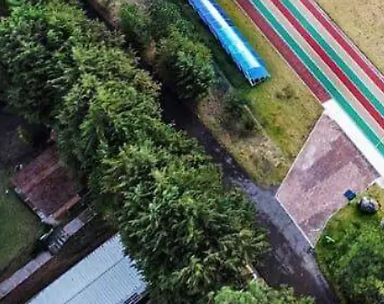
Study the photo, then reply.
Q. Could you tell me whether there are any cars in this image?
No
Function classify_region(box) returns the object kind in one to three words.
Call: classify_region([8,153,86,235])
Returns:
shed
